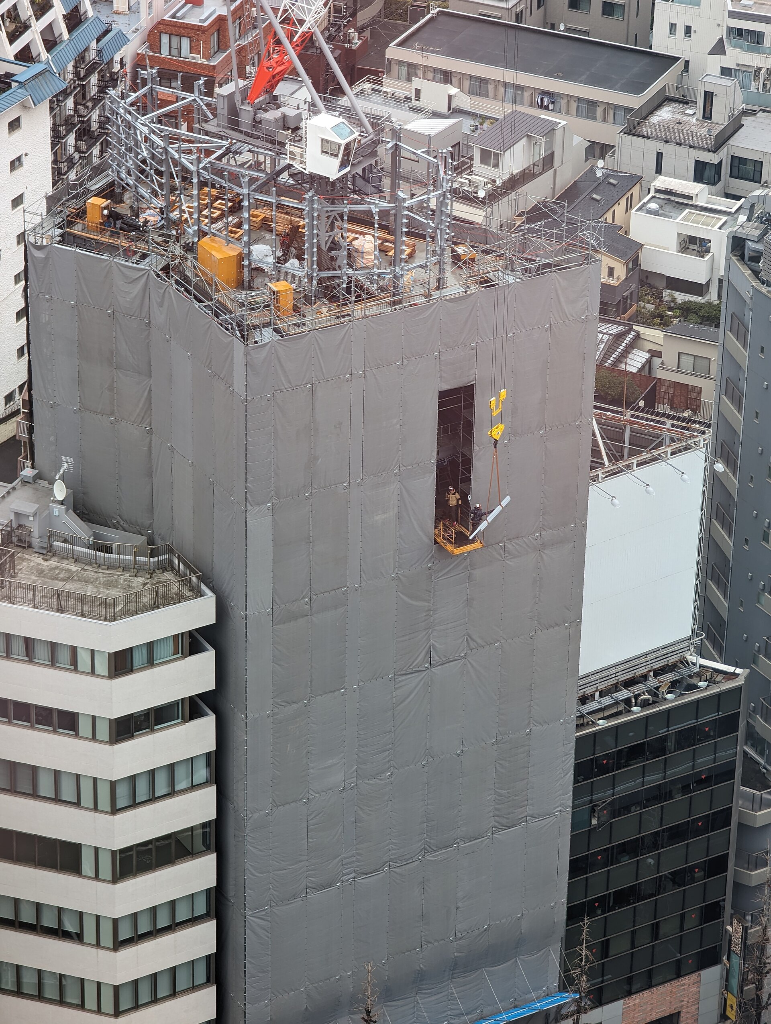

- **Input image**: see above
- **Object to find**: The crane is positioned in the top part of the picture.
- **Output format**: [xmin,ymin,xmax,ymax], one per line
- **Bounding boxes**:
[188,0,394,295]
